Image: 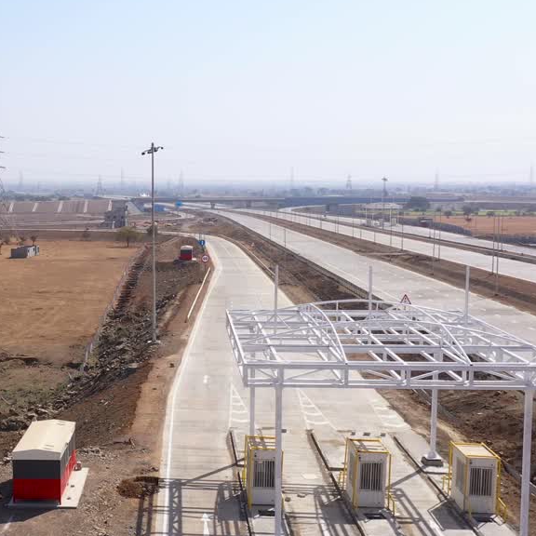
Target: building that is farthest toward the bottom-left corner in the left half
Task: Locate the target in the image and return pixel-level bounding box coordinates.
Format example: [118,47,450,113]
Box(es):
[10,419,95,507]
